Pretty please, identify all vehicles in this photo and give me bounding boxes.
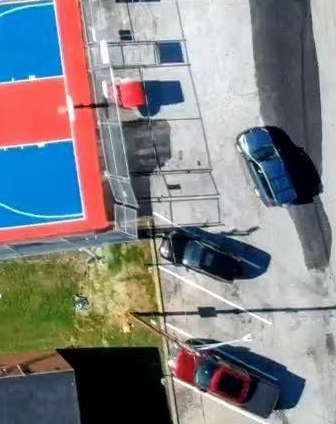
[171,349,279,413]
[234,129,296,214]
[160,235,248,288]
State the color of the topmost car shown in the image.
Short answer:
blue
